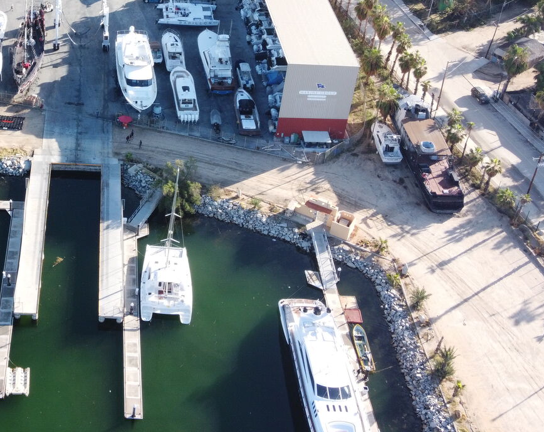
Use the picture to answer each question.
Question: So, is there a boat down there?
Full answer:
Yes, there's a boat here.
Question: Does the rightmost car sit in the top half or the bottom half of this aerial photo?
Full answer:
Seen from above, the rightmost car lies in the top half of the view.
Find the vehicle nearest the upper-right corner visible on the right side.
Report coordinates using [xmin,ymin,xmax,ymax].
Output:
[468,84,493,104]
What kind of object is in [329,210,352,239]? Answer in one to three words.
building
